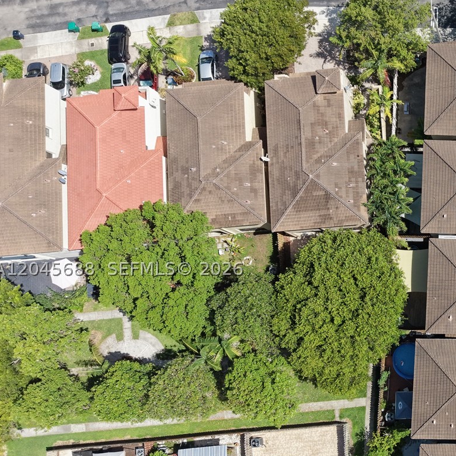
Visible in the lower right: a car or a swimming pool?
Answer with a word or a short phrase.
swimming pool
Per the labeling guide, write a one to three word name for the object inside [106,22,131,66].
car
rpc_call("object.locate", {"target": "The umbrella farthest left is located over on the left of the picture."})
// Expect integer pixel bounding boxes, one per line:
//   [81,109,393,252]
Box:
[48,257,79,289]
